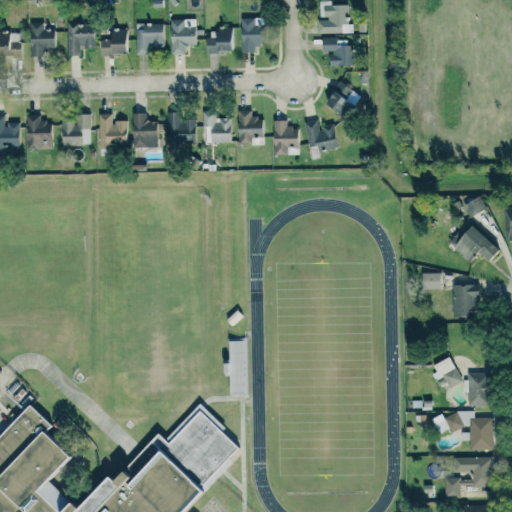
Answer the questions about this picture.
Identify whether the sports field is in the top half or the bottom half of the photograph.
bottom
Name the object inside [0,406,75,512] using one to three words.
building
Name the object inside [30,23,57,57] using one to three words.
house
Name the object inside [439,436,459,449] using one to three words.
swimming pool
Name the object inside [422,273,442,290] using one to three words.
shed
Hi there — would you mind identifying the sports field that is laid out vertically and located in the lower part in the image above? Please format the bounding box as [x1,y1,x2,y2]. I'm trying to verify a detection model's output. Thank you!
[264,212,387,512]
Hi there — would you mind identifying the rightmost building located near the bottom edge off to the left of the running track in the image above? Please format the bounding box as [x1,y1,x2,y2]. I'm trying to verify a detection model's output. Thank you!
[61,404,242,512]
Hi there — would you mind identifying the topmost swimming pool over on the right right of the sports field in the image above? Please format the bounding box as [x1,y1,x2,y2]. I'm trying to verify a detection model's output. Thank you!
[453,386,466,406]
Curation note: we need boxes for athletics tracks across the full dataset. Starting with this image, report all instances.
[250,198,400,512]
